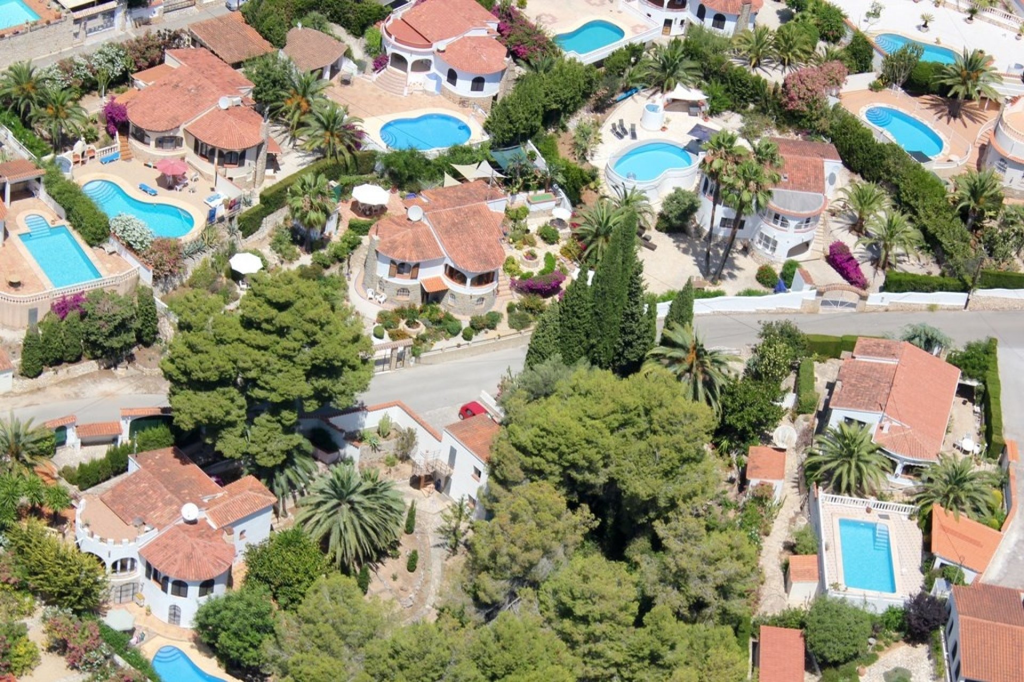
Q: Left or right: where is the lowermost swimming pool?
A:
left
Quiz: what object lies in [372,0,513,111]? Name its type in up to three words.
house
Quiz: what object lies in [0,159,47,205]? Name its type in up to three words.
building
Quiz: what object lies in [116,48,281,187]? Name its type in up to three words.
house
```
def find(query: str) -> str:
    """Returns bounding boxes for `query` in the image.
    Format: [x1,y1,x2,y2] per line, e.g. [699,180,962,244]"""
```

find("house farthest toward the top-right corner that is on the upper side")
[973,102,1024,181]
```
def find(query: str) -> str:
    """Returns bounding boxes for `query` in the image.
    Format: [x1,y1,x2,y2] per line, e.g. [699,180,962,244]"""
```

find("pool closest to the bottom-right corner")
[830,512,907,601]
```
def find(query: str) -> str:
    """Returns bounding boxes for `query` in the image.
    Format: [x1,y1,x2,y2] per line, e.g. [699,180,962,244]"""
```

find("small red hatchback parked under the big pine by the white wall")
[459,402,497,420]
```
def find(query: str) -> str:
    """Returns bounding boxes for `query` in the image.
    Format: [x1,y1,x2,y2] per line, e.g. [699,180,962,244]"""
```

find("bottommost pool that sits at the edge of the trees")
[143,639,242,682]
